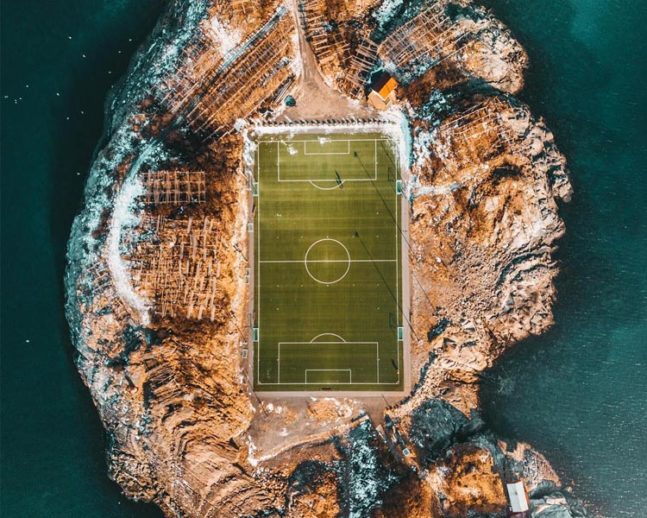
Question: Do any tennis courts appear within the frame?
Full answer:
No, no tennis court is visible in the scene.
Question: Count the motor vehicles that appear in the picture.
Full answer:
The picture shows no motor vehicles.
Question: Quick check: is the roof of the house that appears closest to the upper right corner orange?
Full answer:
Yes, orange is the color of the roof of the house that appears closest to the upper right corner.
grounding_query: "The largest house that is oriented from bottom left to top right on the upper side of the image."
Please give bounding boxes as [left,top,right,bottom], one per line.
[365,75,397,111]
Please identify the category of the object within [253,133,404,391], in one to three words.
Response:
soccer field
